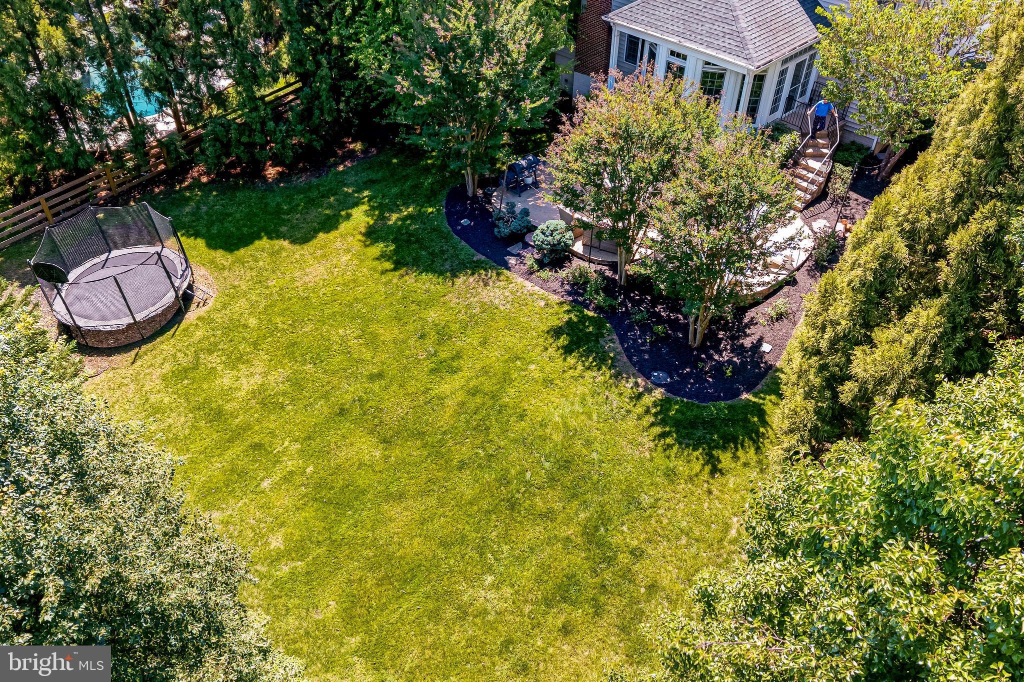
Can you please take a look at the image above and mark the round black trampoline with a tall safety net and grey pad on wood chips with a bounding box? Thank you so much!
[26,201,200,349]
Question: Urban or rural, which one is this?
rural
